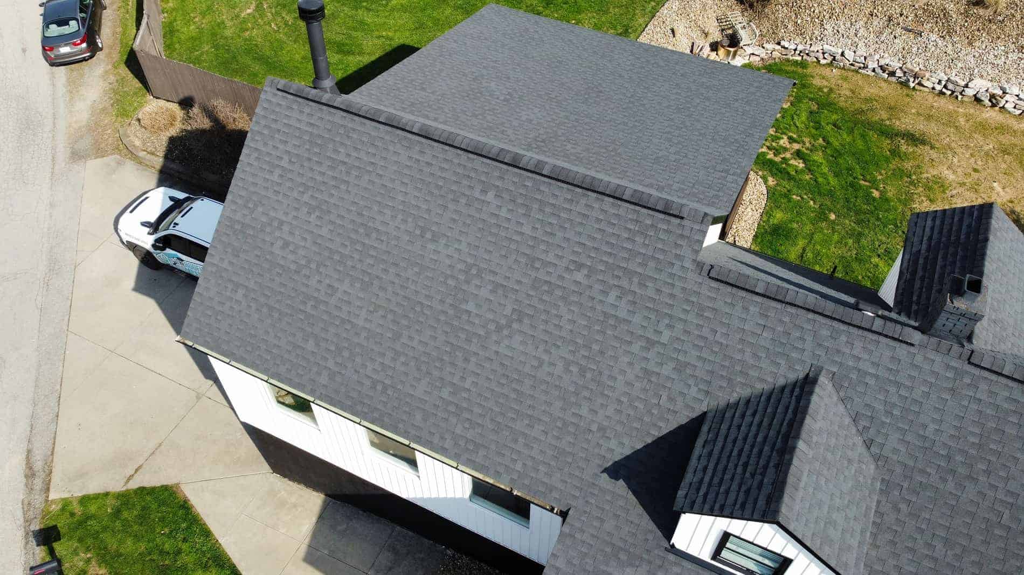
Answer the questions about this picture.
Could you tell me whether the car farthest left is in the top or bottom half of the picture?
top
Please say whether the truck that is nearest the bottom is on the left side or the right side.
left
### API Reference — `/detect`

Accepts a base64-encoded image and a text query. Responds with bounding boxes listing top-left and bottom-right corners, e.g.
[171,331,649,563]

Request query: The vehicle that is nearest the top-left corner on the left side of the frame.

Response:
[43,0,107,64]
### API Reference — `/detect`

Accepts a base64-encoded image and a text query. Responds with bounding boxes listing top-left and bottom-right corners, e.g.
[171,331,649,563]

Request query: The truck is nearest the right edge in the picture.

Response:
[115,188,226,275]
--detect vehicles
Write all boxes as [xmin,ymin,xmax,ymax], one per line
[115,188,226,275]
[43,0,107,64]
